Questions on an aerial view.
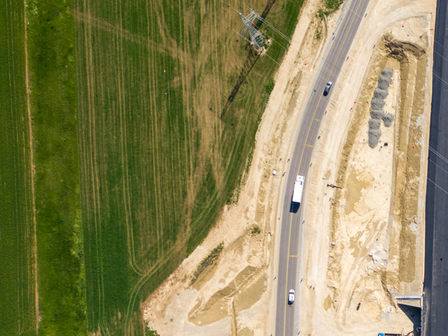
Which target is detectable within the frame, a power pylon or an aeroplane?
power pylon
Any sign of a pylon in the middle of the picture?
No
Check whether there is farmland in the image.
Yes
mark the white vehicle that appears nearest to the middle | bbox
[289,174,303,204]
